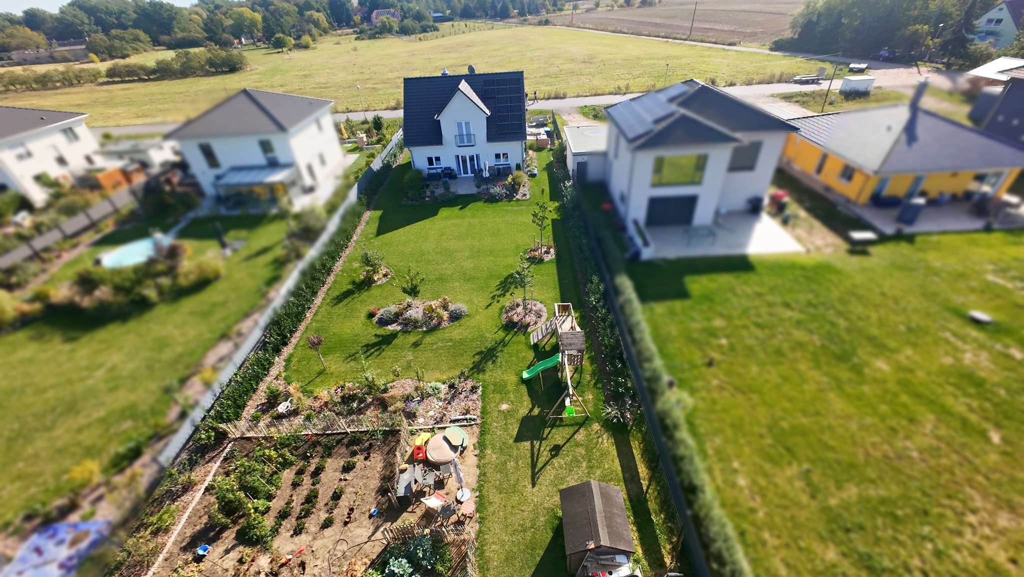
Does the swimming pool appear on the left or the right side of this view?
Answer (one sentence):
It is on the left.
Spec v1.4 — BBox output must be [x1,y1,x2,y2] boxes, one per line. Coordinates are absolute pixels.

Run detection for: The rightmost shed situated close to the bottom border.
[560,477,635,577]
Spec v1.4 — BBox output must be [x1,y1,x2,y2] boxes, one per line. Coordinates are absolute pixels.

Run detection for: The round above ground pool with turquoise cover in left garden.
[90,231,170,265]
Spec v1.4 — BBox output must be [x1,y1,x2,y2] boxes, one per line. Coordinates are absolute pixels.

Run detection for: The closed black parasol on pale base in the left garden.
[217,221,233,255]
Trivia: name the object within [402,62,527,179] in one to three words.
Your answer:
house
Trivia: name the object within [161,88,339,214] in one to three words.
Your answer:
house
